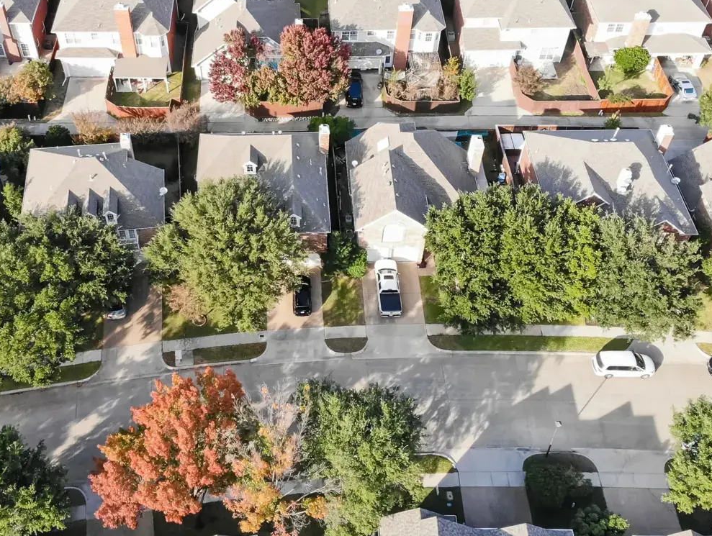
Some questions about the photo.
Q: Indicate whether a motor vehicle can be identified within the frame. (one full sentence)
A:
Yes, the photo shows a motor vehicle.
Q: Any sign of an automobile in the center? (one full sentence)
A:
Yes, I can see an automobile in the center.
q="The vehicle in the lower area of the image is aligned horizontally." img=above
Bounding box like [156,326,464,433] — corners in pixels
[592,347,659,379]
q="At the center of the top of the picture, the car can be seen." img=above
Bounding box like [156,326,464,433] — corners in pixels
[345,80,364,108]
